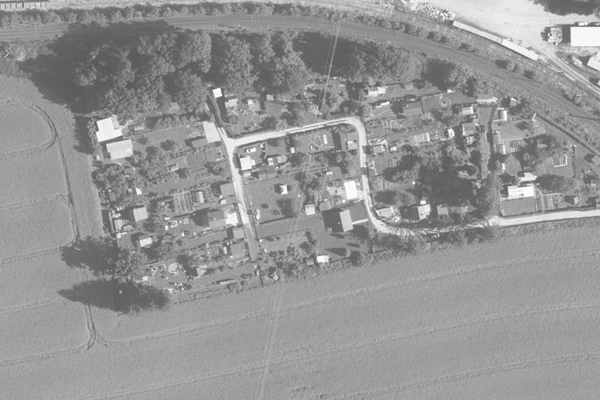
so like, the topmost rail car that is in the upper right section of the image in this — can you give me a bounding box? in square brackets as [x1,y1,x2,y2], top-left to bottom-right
[454,19,502,46]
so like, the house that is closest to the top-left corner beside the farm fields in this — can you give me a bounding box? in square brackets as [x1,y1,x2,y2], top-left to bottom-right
[96,117,122,142]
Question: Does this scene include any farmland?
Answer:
Yes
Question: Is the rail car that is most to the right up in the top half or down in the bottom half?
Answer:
top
